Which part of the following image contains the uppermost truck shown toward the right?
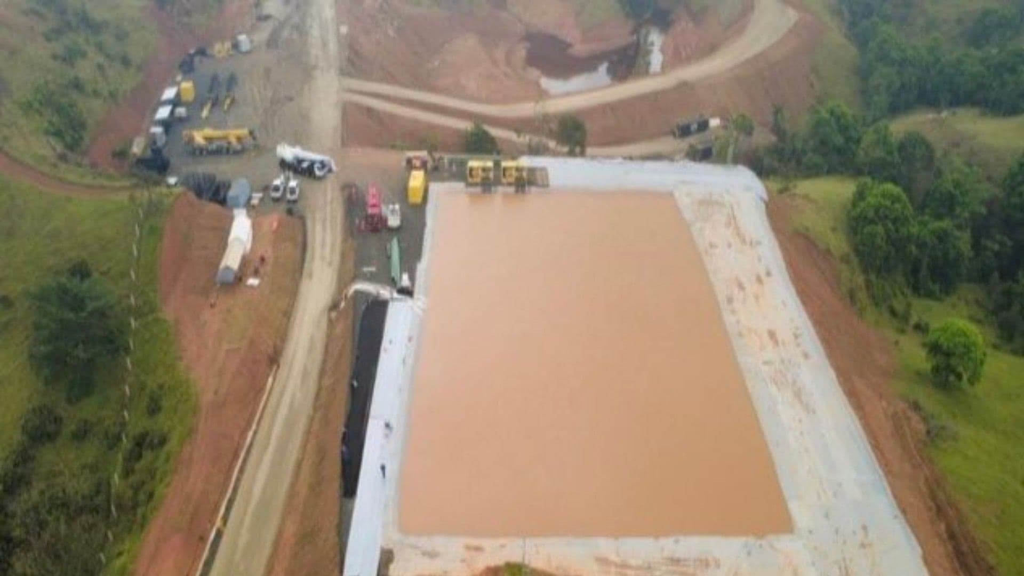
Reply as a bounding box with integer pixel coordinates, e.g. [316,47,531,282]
[675,118,717,139]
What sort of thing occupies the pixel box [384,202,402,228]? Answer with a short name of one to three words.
car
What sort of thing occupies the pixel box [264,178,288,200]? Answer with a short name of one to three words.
truck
